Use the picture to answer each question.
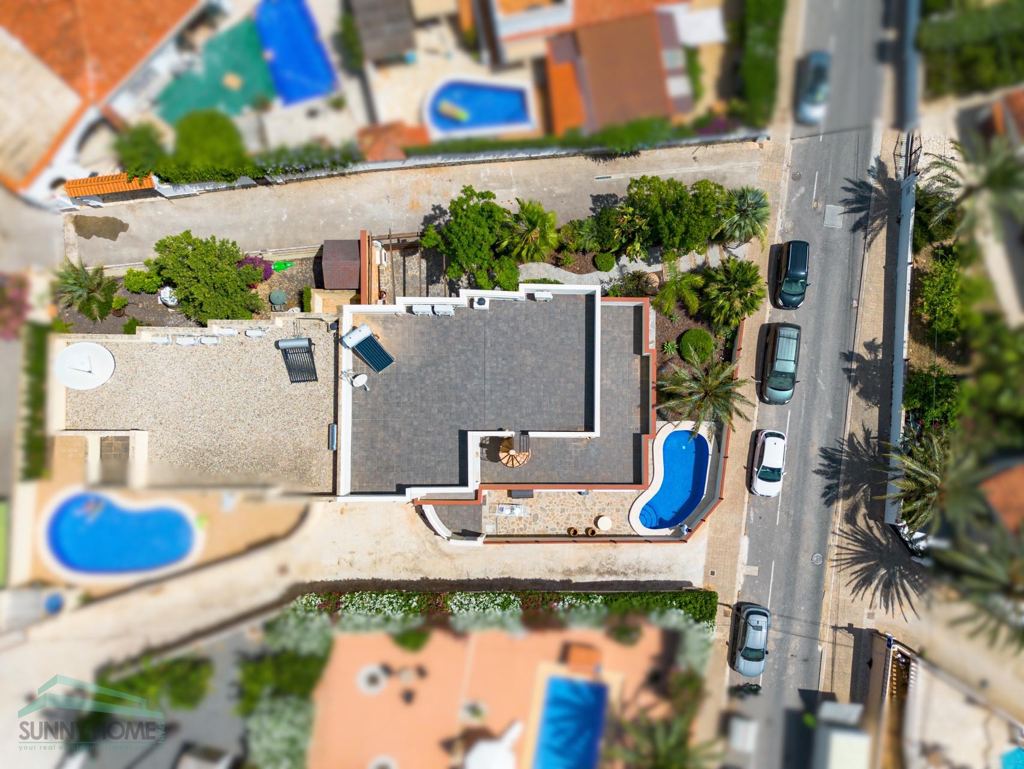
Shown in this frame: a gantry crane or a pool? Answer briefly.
pool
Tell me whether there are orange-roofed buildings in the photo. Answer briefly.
Yes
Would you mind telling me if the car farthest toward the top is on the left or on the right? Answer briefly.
right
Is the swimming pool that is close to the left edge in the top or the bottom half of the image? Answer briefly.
bottom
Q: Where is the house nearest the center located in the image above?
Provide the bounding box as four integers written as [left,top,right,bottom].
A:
[337,284,657,505]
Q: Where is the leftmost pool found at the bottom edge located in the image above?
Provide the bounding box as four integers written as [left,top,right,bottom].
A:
[527,667,617,769]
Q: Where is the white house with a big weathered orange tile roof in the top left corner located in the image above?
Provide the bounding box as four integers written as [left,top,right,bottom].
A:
[0,0,231,203]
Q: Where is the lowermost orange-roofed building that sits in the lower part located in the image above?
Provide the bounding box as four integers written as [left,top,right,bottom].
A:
[567,642,603,674]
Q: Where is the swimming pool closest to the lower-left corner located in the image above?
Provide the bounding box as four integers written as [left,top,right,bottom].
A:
[41,484,203,582]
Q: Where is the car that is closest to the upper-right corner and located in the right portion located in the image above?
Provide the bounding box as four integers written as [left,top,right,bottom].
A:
[795,55,833,128]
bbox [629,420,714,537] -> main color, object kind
blue swimming pool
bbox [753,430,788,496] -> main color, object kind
white car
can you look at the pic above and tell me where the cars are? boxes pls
[734,603,771,676]
[795,55,833,128]
[764,325,803,403]
[753,430,788,496]
[776,240,813,310]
